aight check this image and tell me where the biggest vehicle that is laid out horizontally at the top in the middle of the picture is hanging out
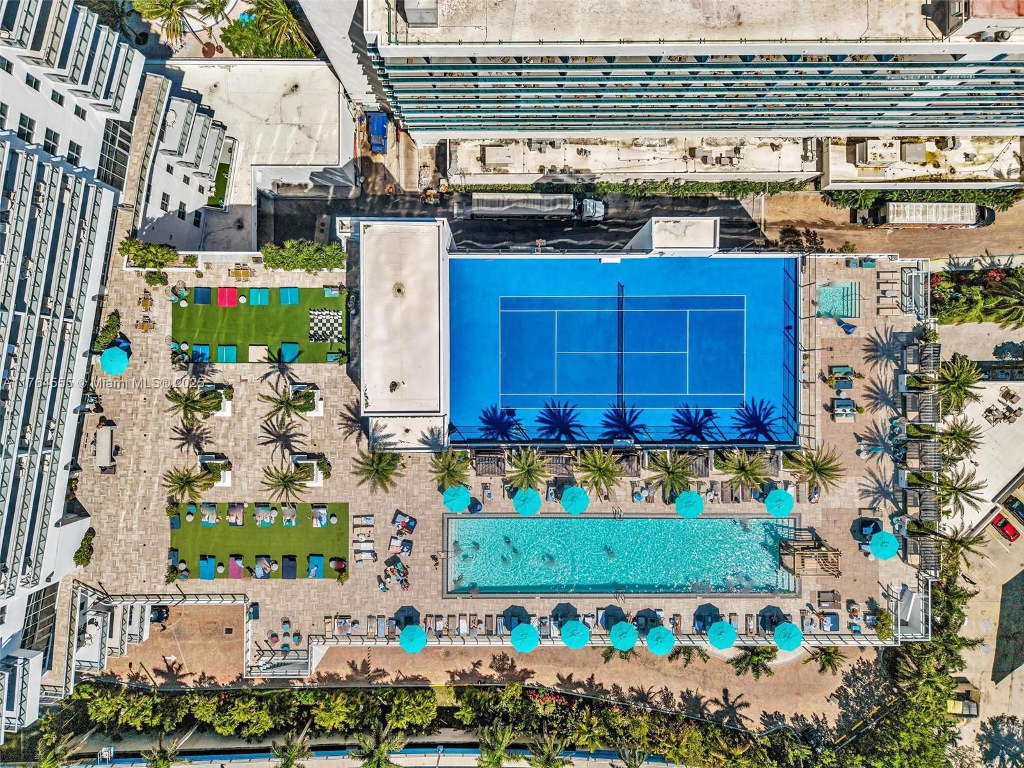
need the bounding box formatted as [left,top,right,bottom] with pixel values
[455,194,606,223]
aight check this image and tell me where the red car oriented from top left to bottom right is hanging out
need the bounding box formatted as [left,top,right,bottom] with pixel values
[985,511,1023,545]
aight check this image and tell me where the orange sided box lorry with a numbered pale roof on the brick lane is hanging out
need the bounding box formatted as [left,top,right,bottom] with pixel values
[839,202,990,231]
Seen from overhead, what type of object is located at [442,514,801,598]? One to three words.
swimming pool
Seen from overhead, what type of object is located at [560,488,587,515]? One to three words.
umbrella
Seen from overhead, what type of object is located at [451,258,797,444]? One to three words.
tennis court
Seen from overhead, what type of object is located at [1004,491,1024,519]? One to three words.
car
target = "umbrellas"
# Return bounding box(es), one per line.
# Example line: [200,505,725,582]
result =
[867,533,898,561]
[644,626,672,654]
[560,488,587,515]
[467,503,483,515]
[512,622,541,651]
[100,345,133,374]
[559,619,586,647]
[705,617,734,648]
[397,625,425,653]
[675,489,704,518]
[766,490,793,517]
[511,488,540,517]
[444,484,472,511]
[608,618,637,648]
[772,621,800,649]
